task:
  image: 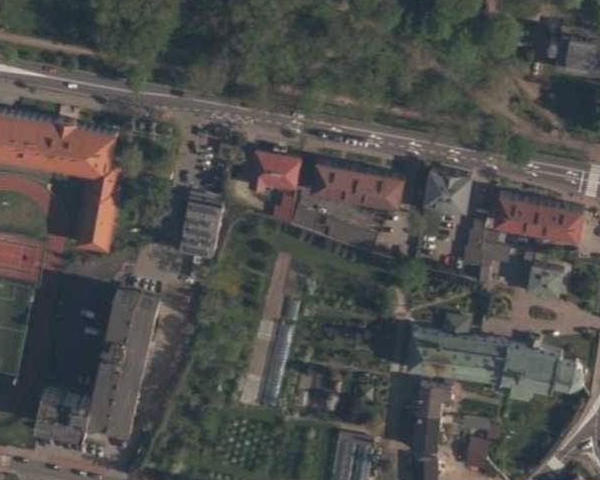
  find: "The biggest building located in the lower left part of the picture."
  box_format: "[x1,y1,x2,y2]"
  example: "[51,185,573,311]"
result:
[86,278,161,446]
